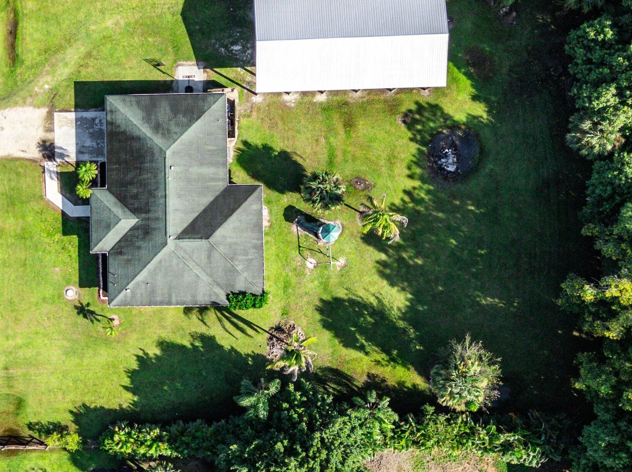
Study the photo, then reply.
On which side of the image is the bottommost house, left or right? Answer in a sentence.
The bottommost house appears in the left half of the scene.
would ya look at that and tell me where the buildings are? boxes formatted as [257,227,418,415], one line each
[89,92,265,308]
[252,0,449,100]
